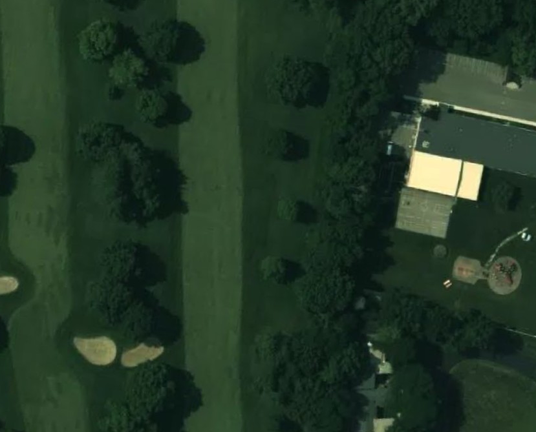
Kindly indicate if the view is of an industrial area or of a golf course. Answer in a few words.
golf course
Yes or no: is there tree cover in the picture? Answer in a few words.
Yes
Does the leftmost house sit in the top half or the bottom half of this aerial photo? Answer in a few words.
bottom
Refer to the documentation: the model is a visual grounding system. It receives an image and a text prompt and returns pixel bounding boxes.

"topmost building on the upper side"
[415,109,536,177]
